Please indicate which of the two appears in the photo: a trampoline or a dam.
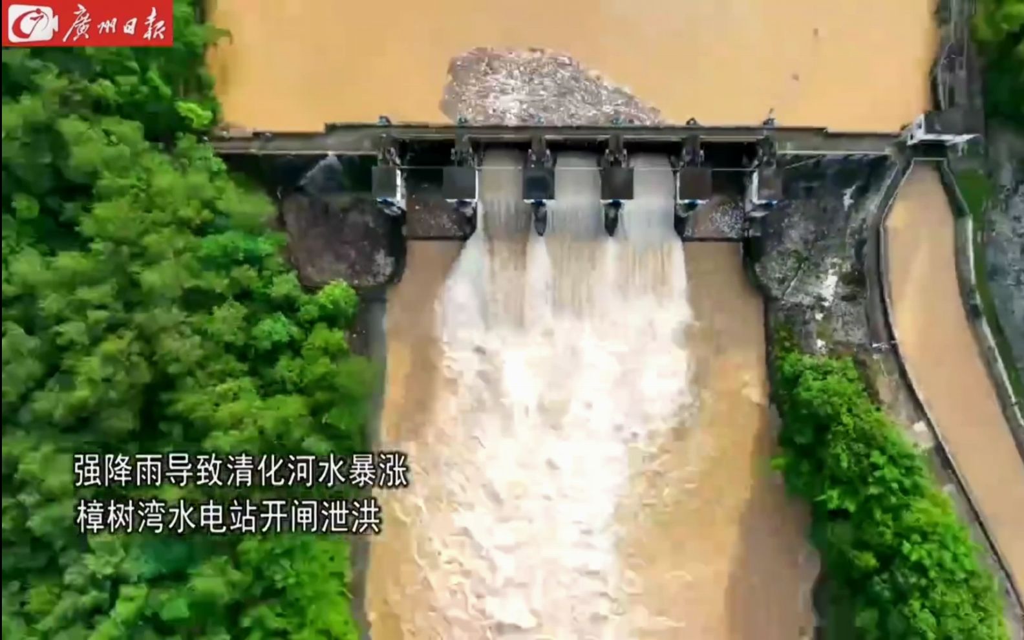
dam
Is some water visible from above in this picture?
Yes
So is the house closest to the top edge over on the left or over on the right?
right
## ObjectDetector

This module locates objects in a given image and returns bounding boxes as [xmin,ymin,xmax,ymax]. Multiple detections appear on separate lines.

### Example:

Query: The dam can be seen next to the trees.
[207,122,908,288]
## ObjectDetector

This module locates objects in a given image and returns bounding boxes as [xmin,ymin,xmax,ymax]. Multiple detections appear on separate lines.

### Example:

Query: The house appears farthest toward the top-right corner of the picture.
[893,111,984,156]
